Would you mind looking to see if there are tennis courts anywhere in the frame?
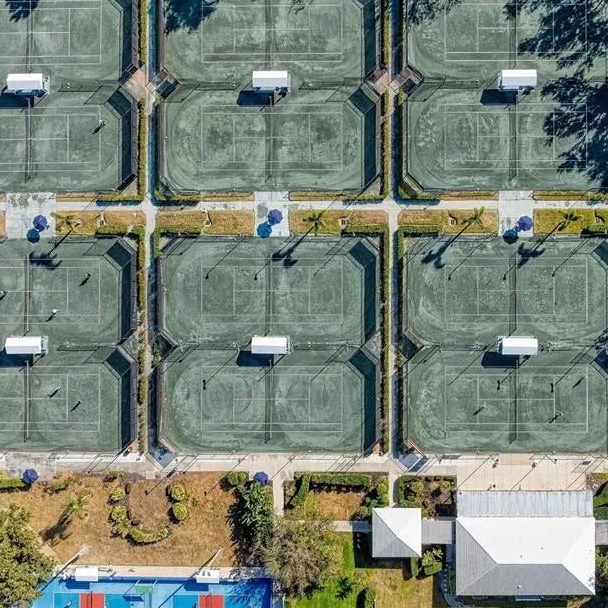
Yes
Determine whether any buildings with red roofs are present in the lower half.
No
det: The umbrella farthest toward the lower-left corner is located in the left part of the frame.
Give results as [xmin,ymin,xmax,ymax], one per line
[23,469,38,483]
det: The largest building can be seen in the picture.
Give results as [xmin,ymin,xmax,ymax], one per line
[455,487,595,595]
